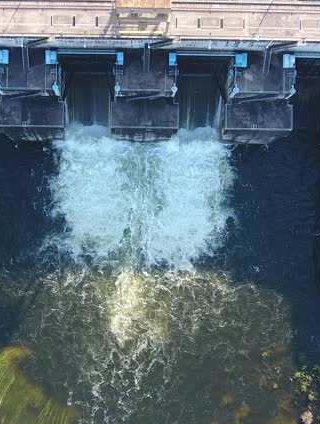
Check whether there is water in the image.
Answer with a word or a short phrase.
Yes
